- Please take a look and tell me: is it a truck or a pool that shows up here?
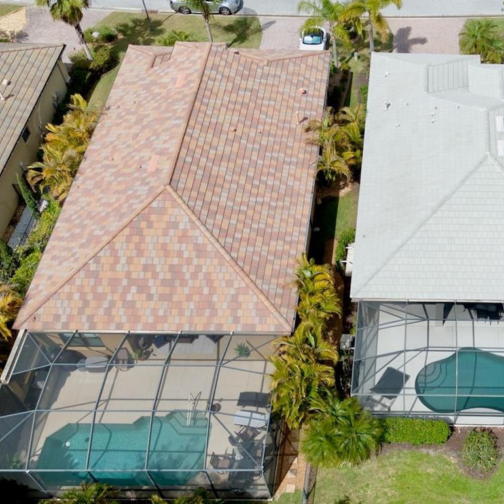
pool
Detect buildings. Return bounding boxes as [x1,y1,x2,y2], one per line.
[348,51,504,329]
[0,42,71,239]
[11,30,330,354]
